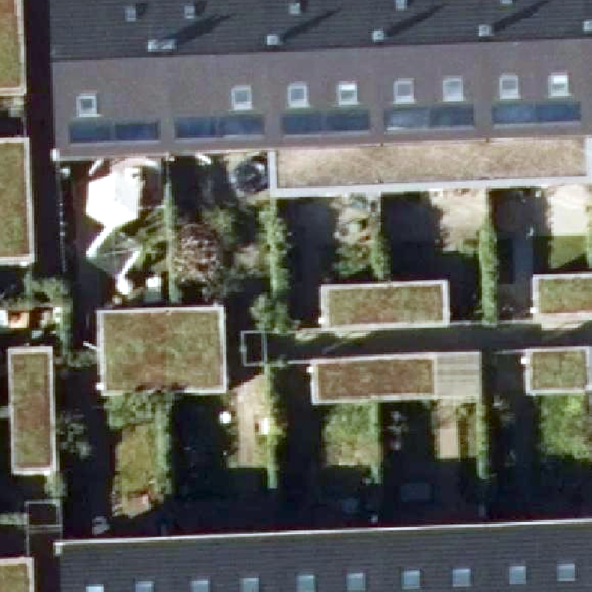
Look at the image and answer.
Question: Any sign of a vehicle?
No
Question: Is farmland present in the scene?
No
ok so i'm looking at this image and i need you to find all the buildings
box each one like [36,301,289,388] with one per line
[0,0,26,95]
[318,282,449,328]
[48,0,592,197]
[97,306,227,393]
[54,519,592,592]
[307,357,437,404]
[520,347,592,394]
[0,558,34,592]
[529,274,592,320]
[8,346,55,474]
[0,137,34,265]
